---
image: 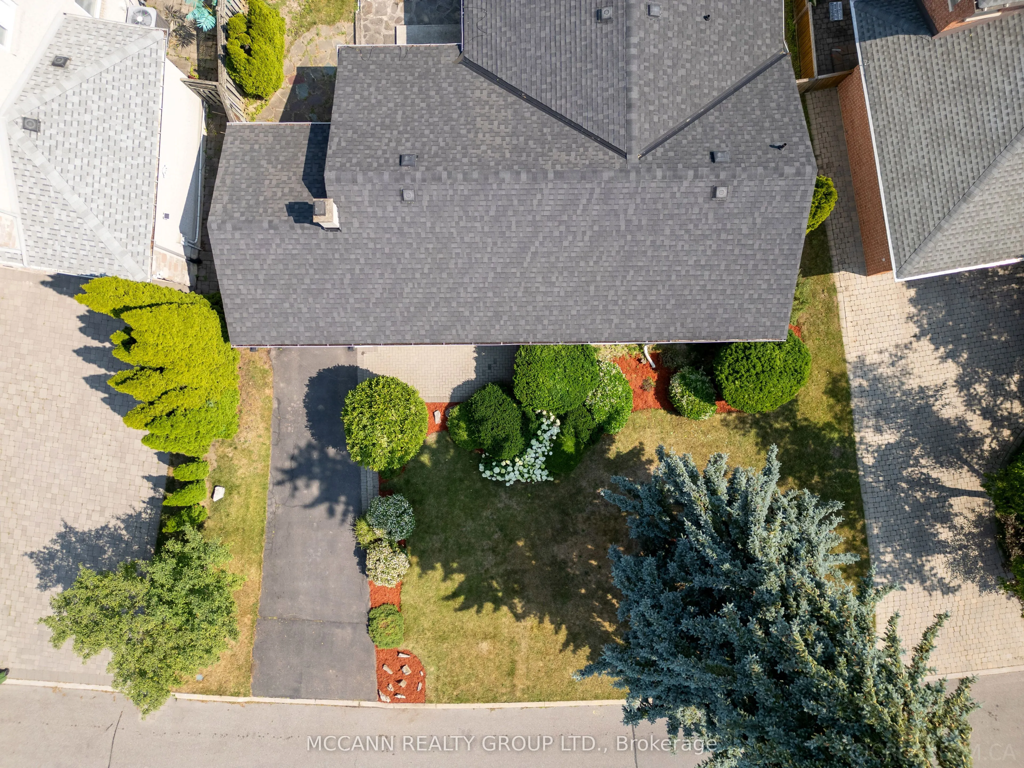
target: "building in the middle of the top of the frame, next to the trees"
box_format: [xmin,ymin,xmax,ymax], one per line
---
[204,0,819,370]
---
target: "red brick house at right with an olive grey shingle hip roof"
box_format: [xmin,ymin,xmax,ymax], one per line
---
[836,0,1024,283]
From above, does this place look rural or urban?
urban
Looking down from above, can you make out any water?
No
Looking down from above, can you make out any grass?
Yes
